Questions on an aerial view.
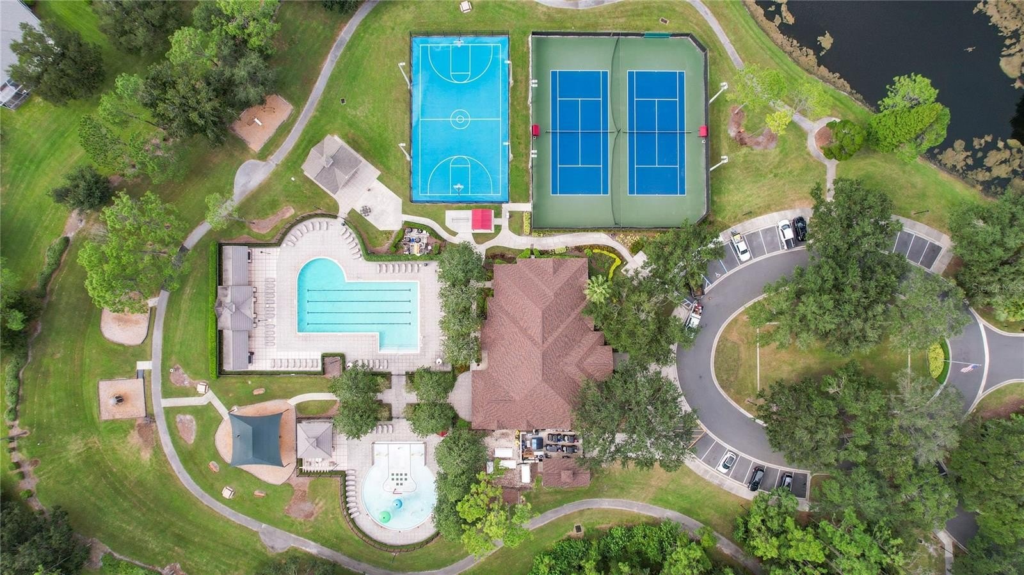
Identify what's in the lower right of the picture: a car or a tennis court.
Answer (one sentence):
What appears in the lower right of the picture is a car.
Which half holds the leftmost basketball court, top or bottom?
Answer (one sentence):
The top half of the photo is where the leftmost basketball court is.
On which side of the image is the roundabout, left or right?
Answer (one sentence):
It is on the right.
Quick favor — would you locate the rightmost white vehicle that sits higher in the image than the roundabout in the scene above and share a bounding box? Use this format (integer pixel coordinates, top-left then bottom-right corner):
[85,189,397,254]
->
[779,219,797,250]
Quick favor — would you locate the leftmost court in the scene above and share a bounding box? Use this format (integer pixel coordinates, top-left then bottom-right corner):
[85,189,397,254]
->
[412,36,509,202]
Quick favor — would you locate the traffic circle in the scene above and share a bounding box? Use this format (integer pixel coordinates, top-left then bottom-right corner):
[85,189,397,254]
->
[677,248,986,473]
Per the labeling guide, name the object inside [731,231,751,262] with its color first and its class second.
white vehicle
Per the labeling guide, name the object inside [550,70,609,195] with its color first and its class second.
blue tennis court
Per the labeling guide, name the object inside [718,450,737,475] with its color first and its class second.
white car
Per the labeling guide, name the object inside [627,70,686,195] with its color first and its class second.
blue tennis court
